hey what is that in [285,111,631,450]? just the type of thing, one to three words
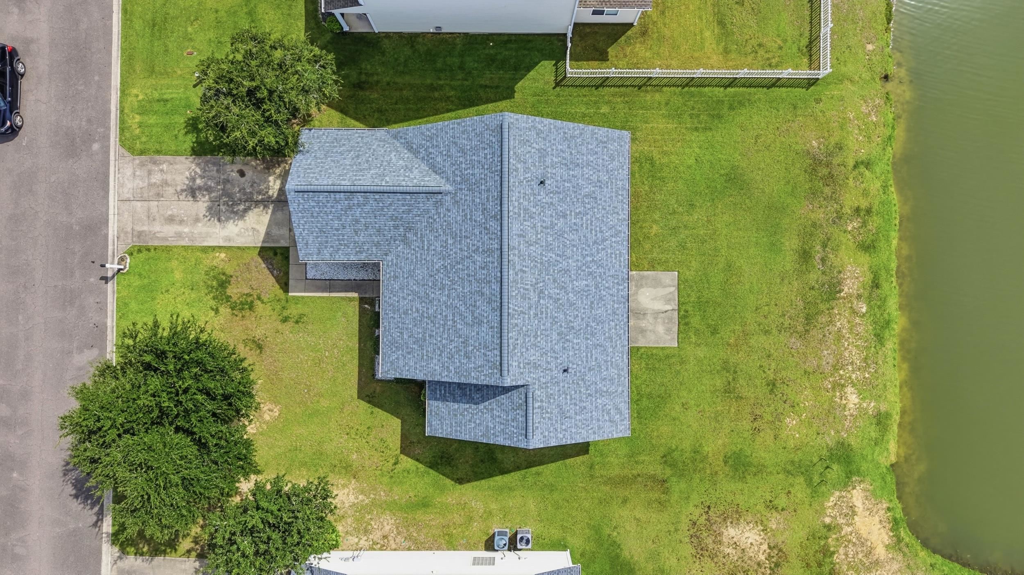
house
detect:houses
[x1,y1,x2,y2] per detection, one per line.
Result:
[285,111,631,450]
[322,0,653,35]
[304,548,582,575]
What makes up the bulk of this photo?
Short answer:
grass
